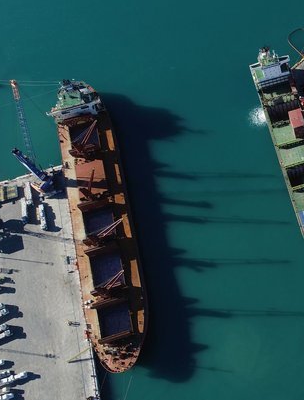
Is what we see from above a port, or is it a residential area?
port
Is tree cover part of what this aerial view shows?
No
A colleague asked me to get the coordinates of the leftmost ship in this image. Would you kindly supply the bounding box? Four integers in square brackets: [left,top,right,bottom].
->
[48,74,143,375]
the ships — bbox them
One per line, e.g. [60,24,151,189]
[254,55,304,240]
[48,74,143,375]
